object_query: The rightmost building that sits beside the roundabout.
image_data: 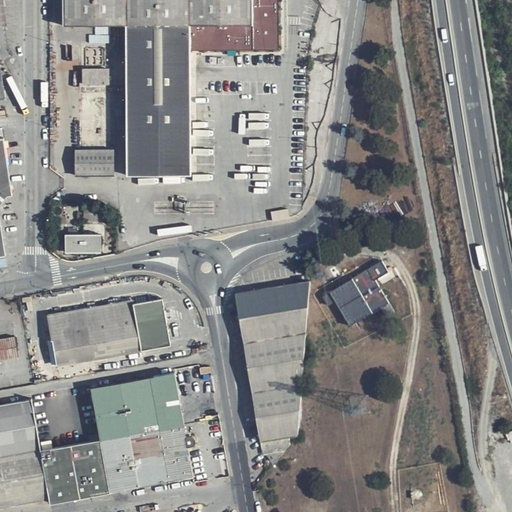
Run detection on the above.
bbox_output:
[236,282,310,442]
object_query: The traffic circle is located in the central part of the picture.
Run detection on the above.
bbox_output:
[181,242,232,293]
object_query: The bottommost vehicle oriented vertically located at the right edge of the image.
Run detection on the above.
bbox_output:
[475,244,488,270]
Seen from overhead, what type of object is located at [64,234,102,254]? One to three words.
house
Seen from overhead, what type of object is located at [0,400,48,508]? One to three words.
building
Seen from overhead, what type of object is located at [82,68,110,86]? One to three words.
shed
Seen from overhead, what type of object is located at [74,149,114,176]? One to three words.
shed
